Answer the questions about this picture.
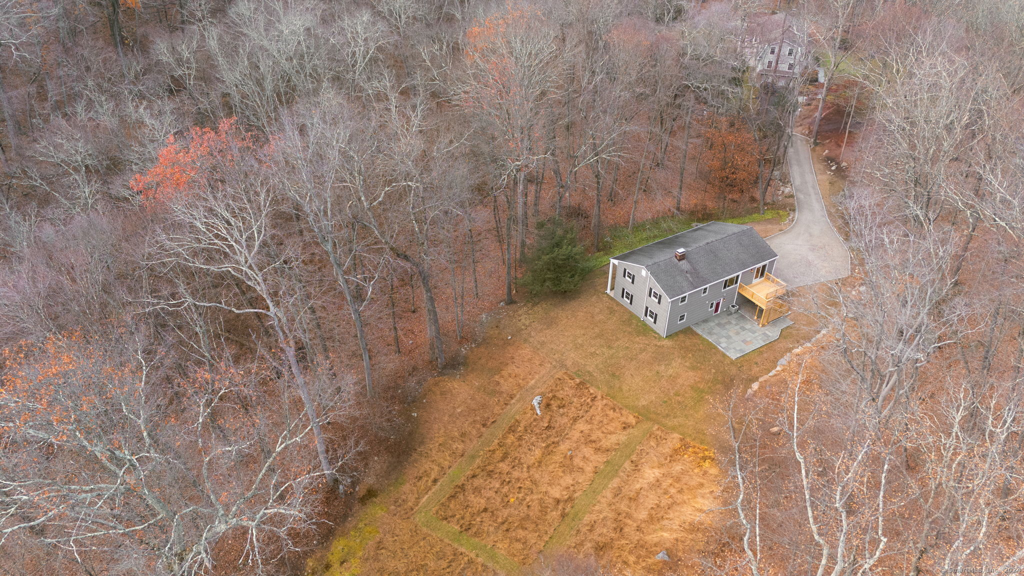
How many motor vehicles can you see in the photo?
zero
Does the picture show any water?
No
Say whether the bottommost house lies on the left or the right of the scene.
right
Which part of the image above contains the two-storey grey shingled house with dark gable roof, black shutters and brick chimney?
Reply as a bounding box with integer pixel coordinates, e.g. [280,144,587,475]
[607,222,779,335]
